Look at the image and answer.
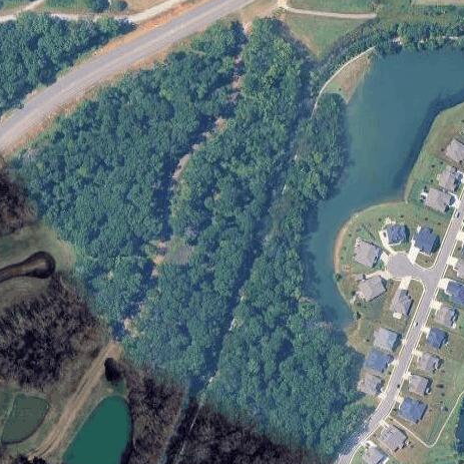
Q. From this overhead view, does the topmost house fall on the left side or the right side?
right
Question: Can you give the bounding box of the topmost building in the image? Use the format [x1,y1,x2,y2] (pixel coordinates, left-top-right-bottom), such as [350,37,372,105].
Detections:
[443,137,464,161]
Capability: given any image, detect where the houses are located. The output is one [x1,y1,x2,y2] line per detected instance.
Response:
[438,305,458,327]
[443,137,464,161]
[361,446,387,464]
[402,398,425,423]
[382,425,406,451]
[353,239,381,264]
[425,188,449,213]
[409,373,431,397]
[428,326,449,349]
[437,165,463,188]
[371,326,400,349]
[359,373,379,396]
[388,292,413,316]
[415,227,439,252]
[358,275,385,303]
[447,280,464,306]
[387,222,404,245]
[364,349,388,373]
[416,353,443,373]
